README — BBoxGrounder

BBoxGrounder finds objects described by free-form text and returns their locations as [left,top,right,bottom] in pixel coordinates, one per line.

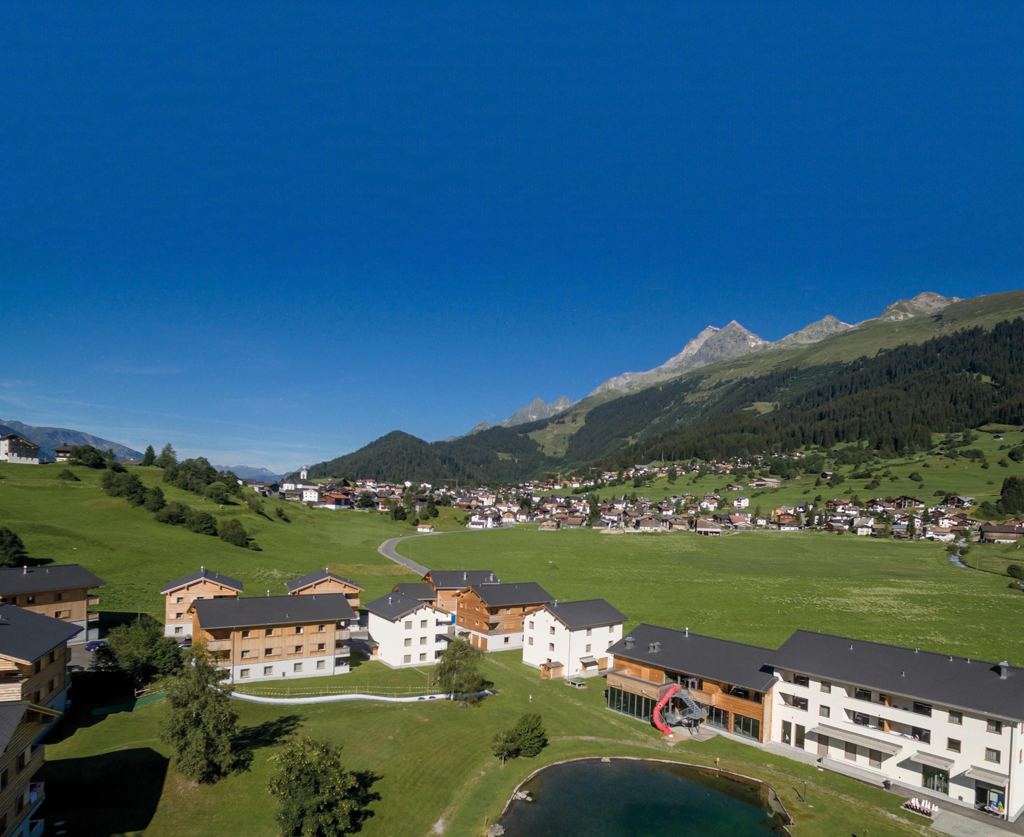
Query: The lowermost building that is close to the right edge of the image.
[761,627,1024,823]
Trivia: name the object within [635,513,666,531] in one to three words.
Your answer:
building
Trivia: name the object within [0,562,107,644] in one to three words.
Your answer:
house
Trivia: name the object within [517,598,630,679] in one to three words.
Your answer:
house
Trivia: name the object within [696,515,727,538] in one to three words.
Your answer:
building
